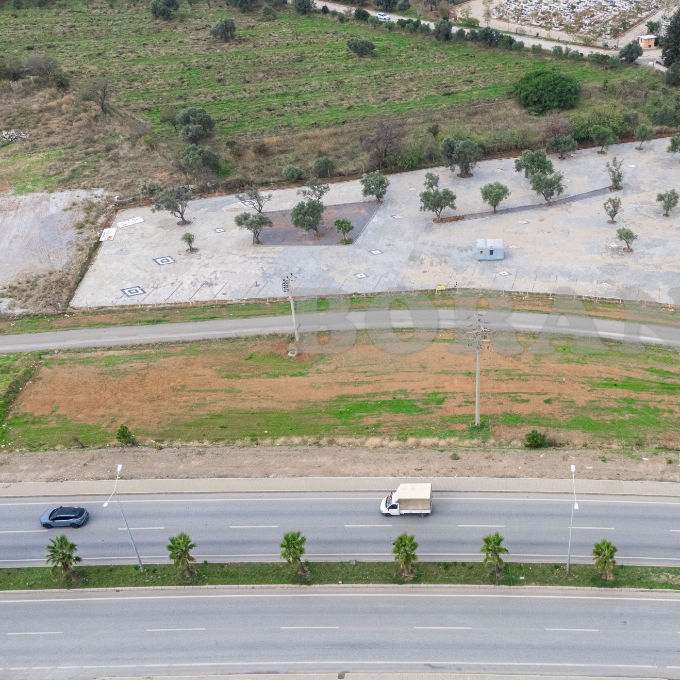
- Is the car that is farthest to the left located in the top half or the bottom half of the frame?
bottom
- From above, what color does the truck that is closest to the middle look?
white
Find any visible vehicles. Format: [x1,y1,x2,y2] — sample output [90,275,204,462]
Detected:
[376,14,389,20]
[383,480,432,516]
[40,503,93,528]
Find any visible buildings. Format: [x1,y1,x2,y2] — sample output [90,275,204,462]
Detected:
[638,33,657,49]
[476,239,504,260]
